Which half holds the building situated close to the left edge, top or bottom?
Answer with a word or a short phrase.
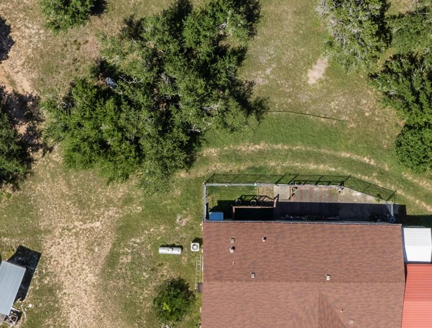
bottom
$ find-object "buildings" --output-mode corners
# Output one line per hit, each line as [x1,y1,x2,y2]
[201,220,406,328]
[0,256,30,315]
[404,224,432,262]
